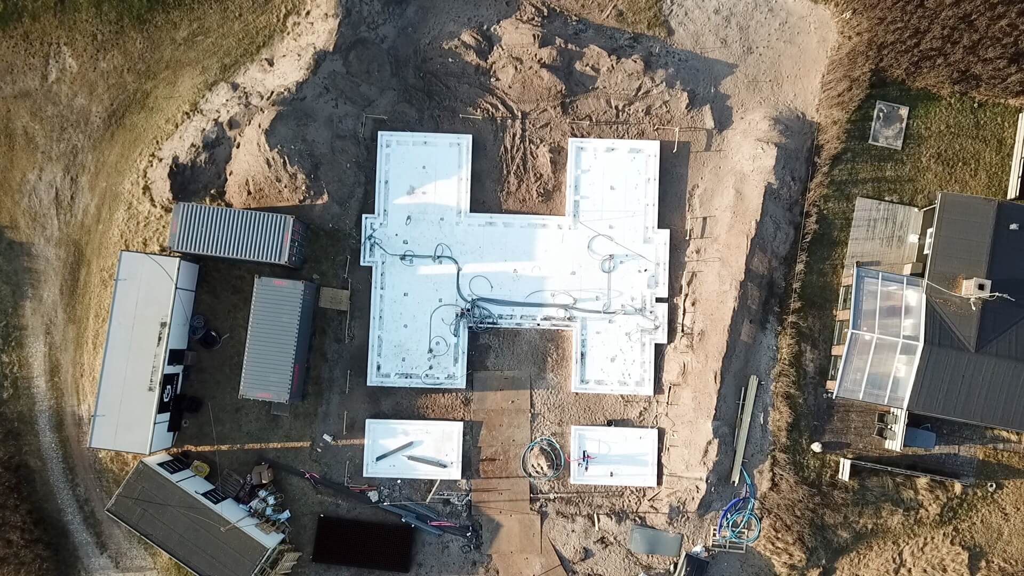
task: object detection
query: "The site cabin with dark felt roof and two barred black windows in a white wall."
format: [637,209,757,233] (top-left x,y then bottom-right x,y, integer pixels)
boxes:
[106,451,282,576]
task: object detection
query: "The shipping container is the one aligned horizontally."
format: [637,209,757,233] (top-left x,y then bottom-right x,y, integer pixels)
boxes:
[171,201,307,267]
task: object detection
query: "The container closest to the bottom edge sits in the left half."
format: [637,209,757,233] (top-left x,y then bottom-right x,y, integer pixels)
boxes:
[240,275,316,402]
